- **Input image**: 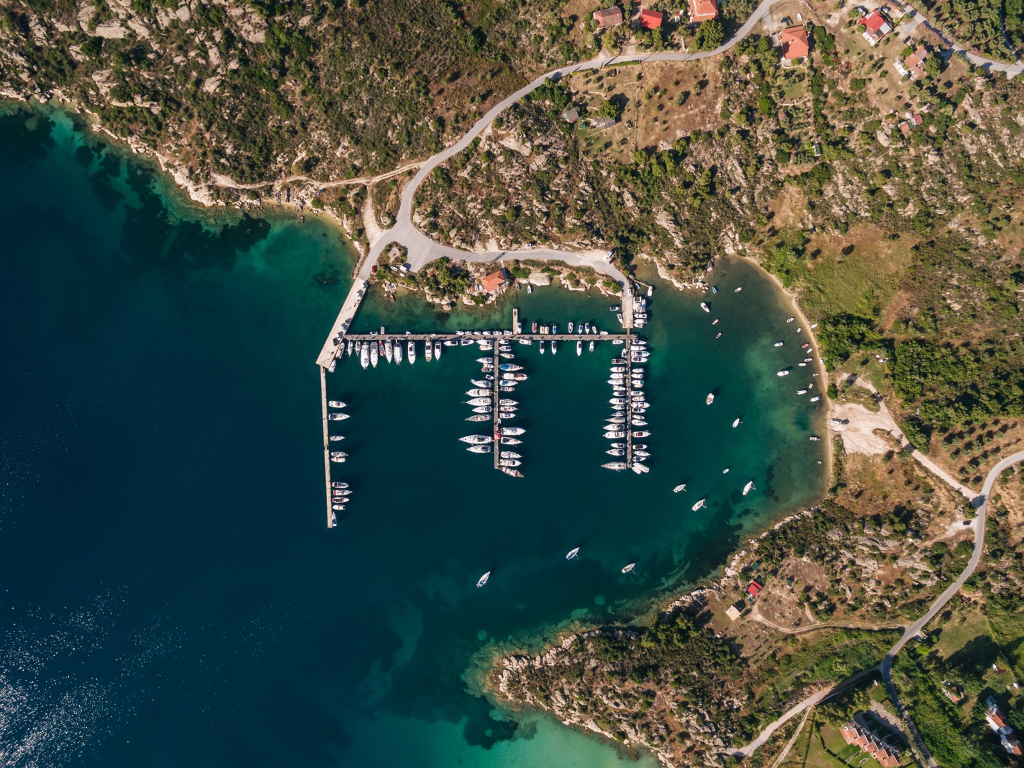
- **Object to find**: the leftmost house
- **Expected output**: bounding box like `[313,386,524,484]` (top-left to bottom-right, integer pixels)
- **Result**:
[480,271,504,292]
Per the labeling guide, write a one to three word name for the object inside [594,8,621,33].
house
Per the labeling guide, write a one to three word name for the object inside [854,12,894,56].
house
